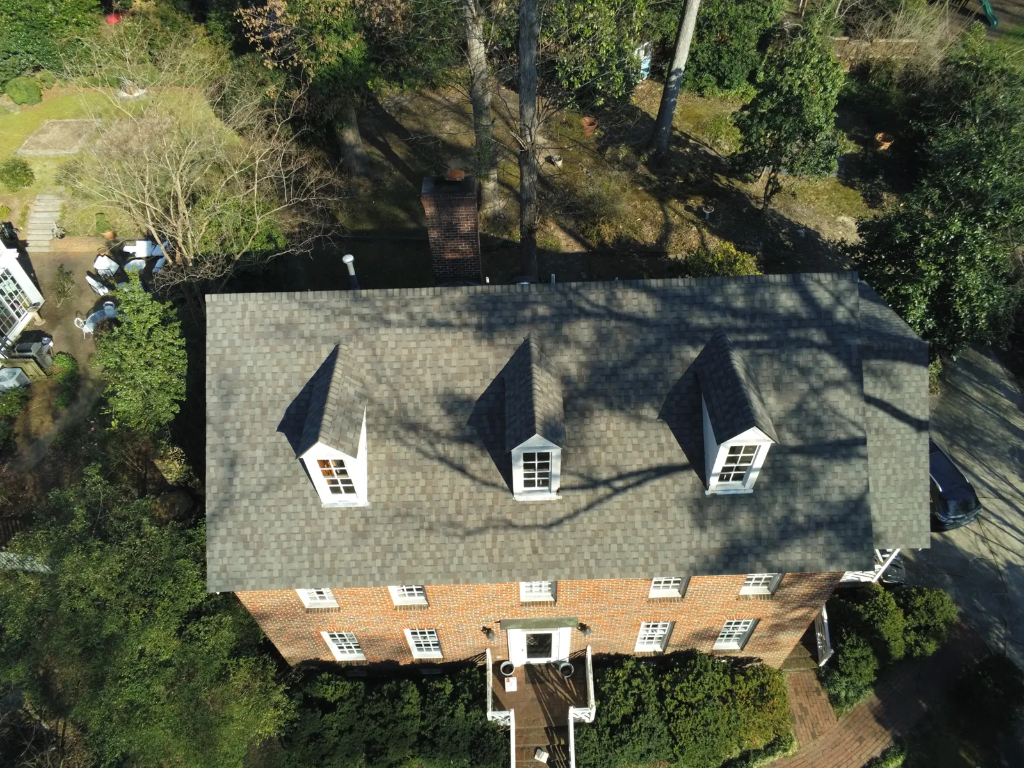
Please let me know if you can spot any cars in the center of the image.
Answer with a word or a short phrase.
No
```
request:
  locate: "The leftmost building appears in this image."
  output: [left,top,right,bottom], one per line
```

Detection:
[0,233,44,337]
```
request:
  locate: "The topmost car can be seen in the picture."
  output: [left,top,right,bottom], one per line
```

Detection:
[930,431,984,531]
